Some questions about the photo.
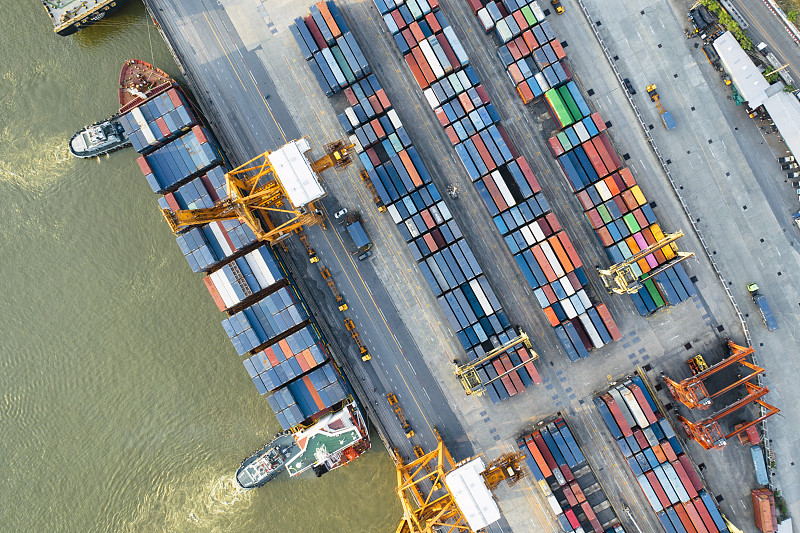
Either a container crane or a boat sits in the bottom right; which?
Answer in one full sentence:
The feature located in the bottom right is a container crane.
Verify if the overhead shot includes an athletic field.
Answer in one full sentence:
No, there isn't any athletic field down there.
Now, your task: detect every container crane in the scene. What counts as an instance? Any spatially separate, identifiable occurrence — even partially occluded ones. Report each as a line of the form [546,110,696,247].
[453,322,541,395]
[592,228,694,294]
[396,442,540,533]
[657,333,766,408]
[151,132,363,256]
[671,370,782,449]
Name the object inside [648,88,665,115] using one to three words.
vehicle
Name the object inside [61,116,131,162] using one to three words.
boat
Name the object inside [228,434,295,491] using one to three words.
boat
